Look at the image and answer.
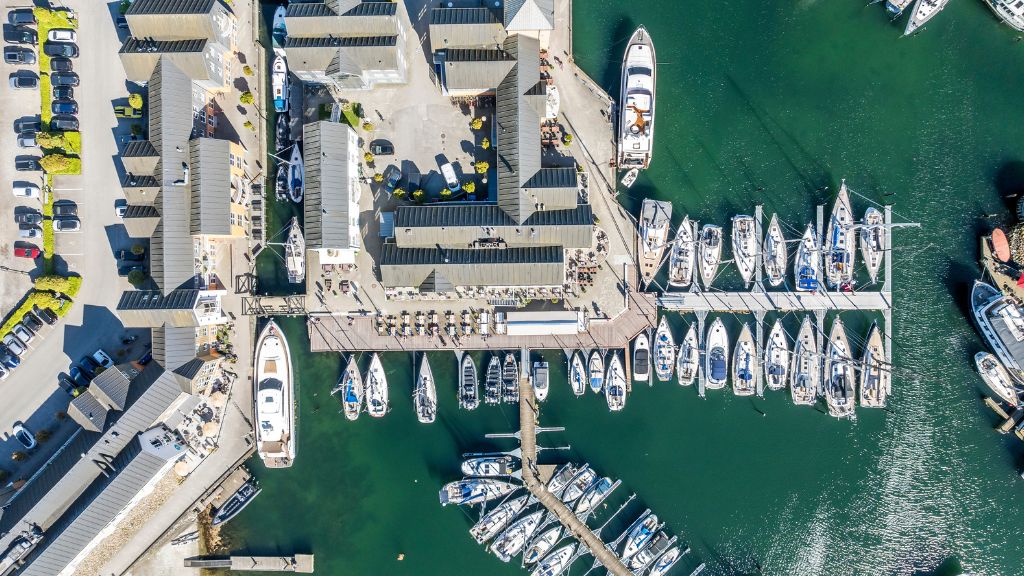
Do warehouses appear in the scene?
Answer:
Yes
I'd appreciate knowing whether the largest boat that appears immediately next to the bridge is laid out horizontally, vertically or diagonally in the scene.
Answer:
vertically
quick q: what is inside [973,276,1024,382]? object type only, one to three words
ship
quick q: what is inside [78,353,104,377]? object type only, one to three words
car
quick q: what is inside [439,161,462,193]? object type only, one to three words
vehicle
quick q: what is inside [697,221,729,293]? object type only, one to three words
boat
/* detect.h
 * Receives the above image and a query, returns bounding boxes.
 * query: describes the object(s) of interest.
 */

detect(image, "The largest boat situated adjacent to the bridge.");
[253,320,297,470]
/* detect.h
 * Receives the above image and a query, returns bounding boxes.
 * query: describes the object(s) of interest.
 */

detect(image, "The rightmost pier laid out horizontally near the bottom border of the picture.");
[182,553,315,574]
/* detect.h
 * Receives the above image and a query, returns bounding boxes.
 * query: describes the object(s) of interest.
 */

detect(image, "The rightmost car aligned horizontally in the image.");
[368,141,397,155]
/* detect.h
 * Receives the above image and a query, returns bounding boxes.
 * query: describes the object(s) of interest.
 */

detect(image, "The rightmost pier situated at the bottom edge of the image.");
[461,350,705,576]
